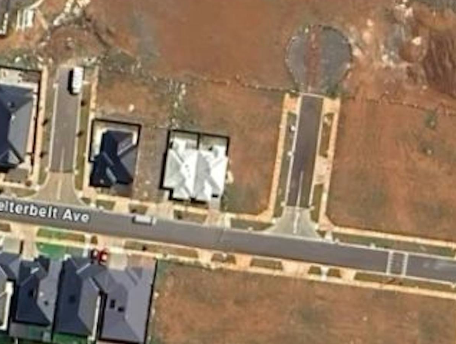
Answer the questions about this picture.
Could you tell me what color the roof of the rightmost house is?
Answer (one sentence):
The roof over the rightmost house appears white.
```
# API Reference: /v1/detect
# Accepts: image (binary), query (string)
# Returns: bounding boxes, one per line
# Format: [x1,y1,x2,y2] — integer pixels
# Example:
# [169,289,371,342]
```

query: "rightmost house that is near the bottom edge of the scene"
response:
[99,267,150,344]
